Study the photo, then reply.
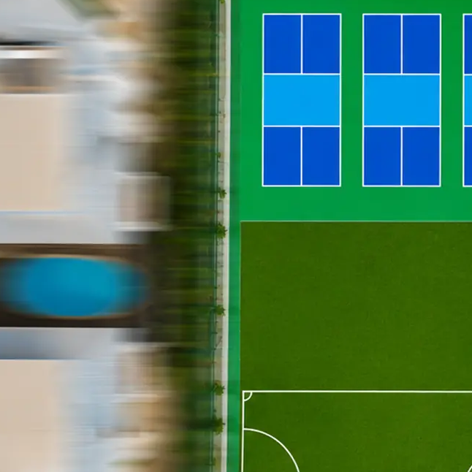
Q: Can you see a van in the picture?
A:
No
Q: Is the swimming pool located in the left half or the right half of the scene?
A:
left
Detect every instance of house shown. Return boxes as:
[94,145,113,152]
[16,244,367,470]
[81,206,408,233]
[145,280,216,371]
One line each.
[0,0,150,244]
[0,328,150,472]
